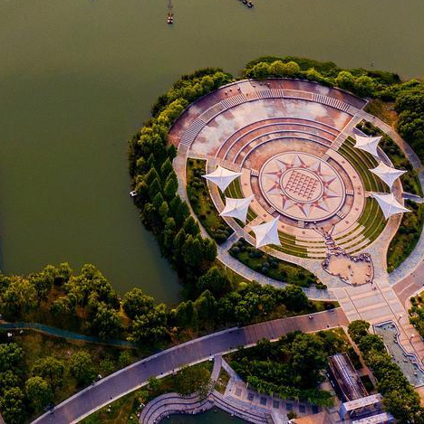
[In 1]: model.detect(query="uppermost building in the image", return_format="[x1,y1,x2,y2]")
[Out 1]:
[321,355,366,412]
